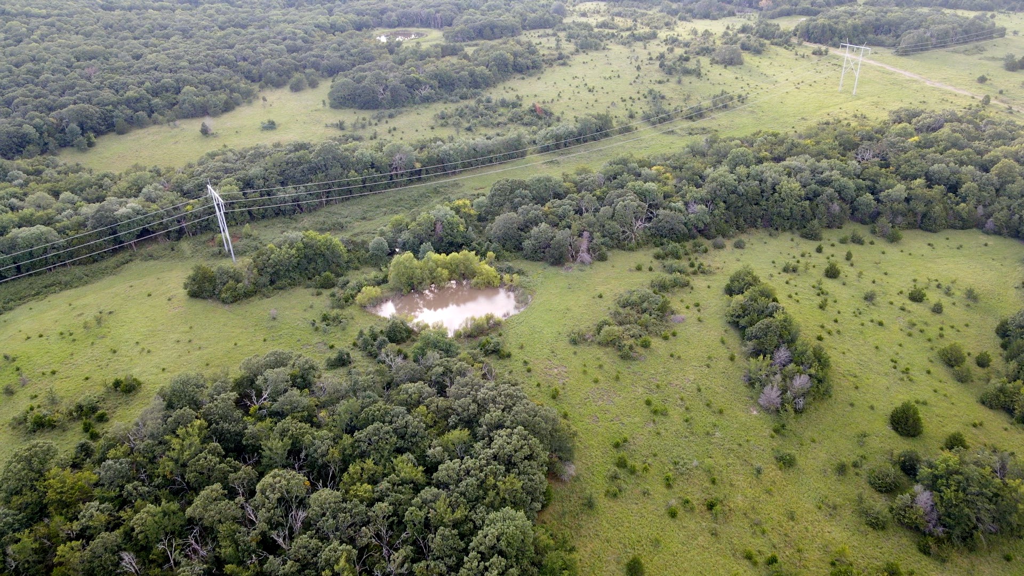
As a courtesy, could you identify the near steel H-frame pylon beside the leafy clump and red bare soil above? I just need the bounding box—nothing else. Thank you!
[205,178,236,261]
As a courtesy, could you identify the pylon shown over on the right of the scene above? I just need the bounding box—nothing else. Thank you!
[839,38,872,94]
